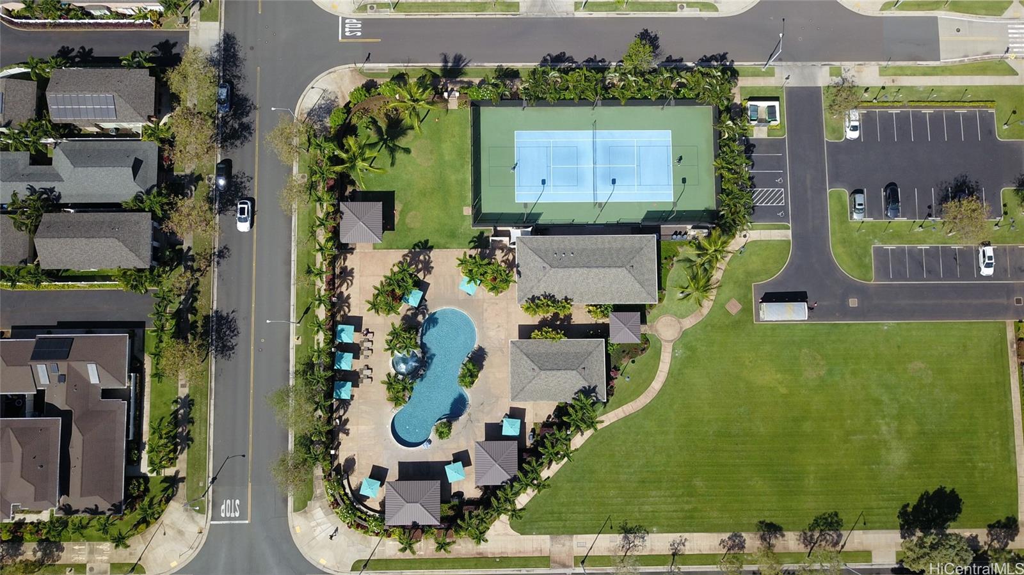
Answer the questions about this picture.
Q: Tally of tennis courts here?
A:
one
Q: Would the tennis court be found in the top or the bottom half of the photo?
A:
top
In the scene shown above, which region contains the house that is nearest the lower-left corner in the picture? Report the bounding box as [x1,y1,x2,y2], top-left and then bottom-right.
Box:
[0,417,67,521]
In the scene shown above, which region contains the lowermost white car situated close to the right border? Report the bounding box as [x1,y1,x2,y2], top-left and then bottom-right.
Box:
[979,246,997,277]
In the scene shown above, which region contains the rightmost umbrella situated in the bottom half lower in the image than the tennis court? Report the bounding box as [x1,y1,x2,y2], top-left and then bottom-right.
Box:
[502,417,520,436]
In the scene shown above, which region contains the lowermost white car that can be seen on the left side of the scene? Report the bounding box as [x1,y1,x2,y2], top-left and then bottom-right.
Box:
[236,201,252,232]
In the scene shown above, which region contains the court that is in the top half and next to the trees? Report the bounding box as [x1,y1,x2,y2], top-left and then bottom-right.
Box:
[472,104,717,225]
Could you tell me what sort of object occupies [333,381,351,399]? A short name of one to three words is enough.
umbrella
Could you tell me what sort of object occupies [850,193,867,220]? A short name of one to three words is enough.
car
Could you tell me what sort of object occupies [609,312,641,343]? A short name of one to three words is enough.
building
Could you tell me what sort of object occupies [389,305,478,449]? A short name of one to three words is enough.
swimming pool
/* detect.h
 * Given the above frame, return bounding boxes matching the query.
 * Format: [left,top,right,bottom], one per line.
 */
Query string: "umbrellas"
[333,381,351,399]
[445,461,466,483]
[359,477,381,498]
[502,417,520,436]
[335,352,353,370]
[401,289,424,309]
[458,279,479,298]
[337,325,355,343]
